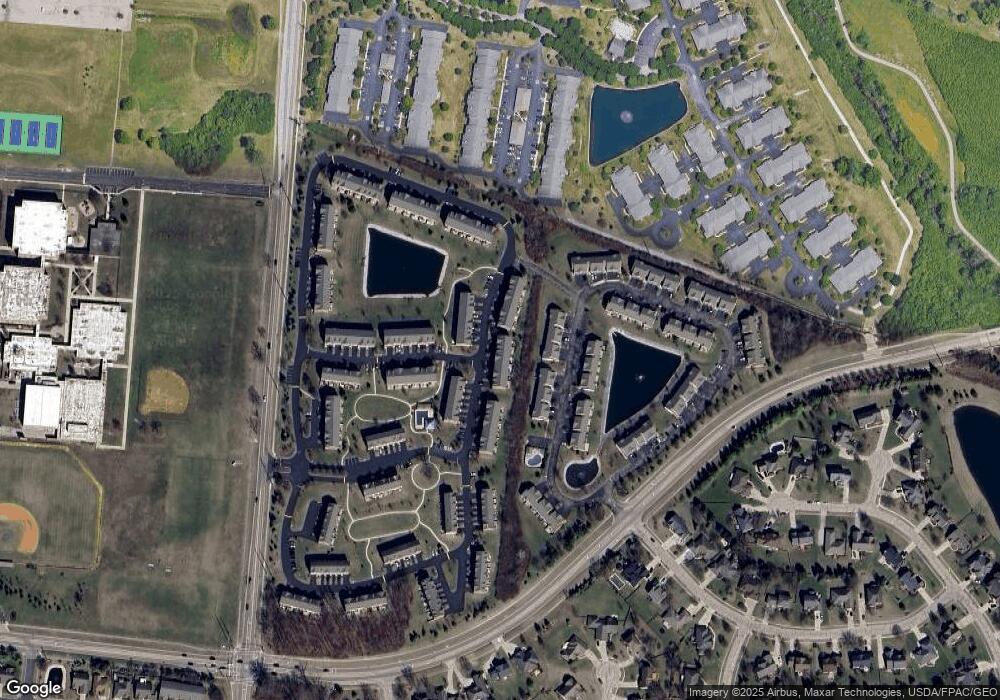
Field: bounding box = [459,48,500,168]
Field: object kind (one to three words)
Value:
building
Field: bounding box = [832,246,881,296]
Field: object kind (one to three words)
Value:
house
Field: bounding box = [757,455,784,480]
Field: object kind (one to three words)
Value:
house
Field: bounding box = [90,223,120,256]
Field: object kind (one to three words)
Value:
building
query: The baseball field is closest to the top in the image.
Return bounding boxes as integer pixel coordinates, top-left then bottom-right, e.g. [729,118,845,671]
[142,368,189,419]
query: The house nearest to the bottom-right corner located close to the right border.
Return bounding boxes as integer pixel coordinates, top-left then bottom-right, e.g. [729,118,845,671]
[952,662,981,687]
